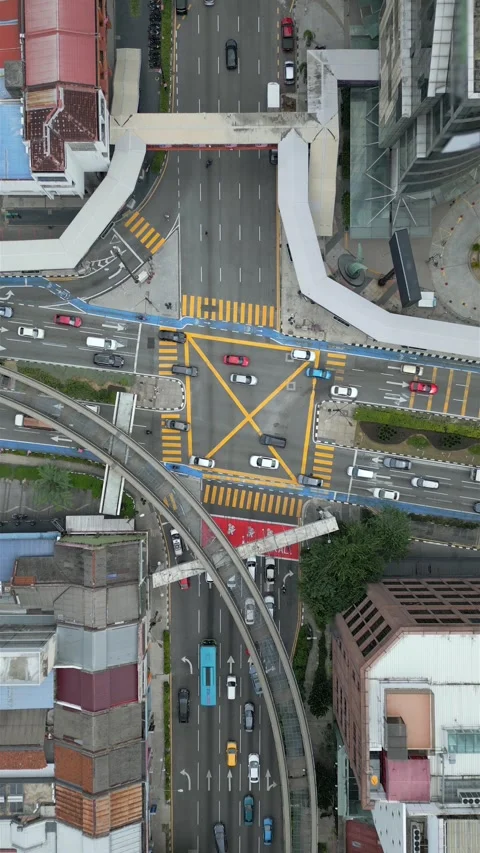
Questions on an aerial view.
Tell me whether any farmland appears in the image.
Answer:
No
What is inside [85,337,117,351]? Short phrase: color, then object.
white vehicle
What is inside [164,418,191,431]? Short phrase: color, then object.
gray vehicle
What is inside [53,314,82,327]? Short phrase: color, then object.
red vehicle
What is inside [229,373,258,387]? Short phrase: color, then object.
white vehicle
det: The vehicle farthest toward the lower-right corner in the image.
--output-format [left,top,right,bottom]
[262,817,274,844]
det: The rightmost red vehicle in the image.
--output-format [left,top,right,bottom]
[408,381,438,394]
